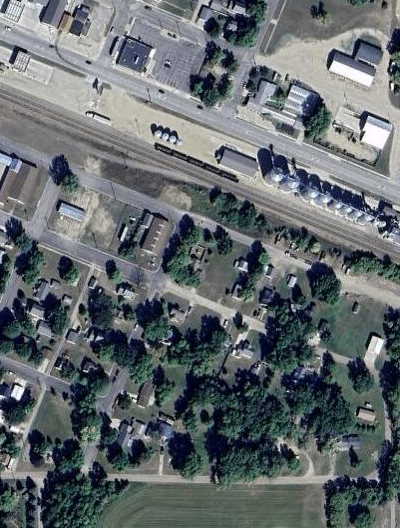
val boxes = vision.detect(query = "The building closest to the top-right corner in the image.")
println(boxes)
[354,40,383,66]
